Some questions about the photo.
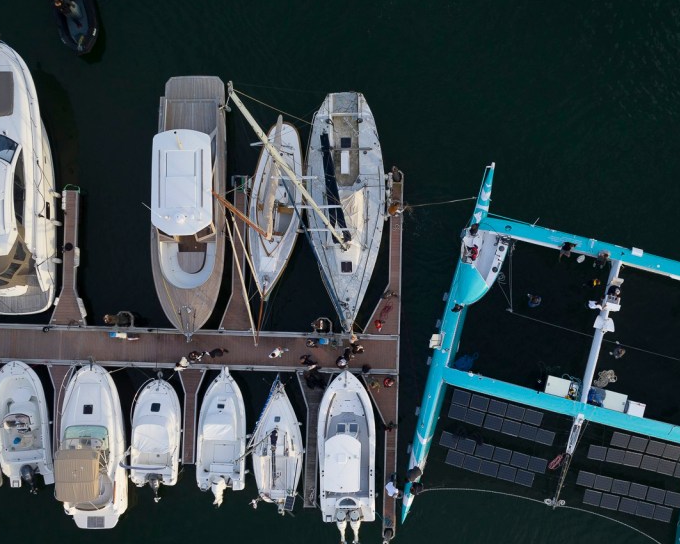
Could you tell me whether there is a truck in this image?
No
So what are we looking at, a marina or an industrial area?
marina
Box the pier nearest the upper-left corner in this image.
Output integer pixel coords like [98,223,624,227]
[50,183,90,325]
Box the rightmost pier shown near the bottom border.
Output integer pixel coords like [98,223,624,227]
[364,373,400,540]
